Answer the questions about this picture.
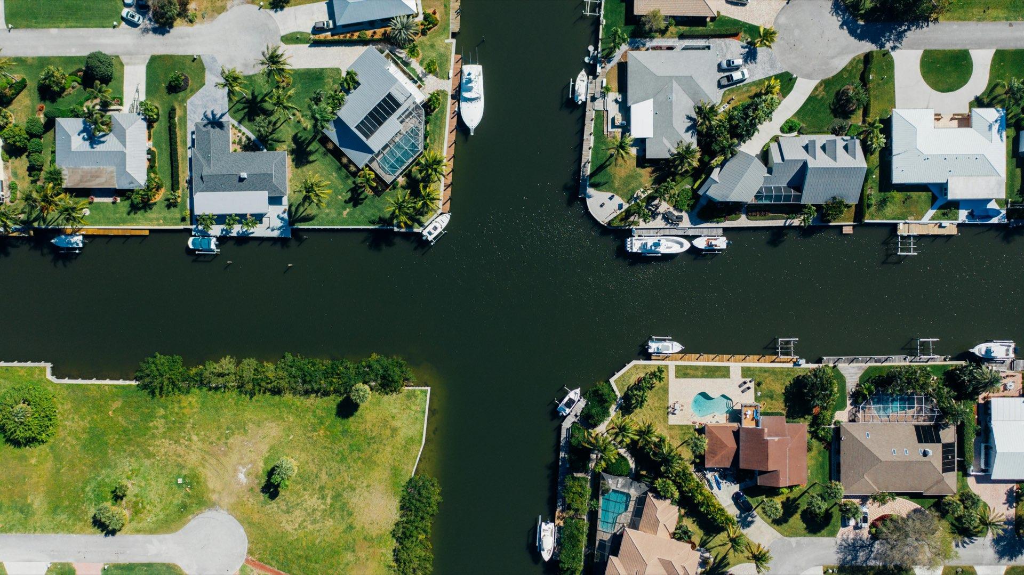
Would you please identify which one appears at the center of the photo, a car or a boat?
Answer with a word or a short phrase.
boat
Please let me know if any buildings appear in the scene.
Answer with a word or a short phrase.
Yes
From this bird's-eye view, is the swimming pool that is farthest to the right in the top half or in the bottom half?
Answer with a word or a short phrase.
bottom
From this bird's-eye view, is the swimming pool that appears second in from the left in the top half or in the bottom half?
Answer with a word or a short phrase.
bottom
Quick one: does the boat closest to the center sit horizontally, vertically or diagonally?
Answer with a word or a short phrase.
diagonally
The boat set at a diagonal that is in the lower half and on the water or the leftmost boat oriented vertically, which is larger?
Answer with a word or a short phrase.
the leftmost boat oriented vertically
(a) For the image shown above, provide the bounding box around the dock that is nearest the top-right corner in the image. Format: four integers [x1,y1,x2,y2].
[897,223,958,236]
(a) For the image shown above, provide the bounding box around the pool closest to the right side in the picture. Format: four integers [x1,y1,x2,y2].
[871,393,916,419]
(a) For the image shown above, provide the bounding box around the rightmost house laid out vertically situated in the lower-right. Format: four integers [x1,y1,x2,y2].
[987,397,1024,479]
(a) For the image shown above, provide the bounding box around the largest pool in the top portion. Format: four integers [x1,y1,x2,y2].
[378,125,422,175]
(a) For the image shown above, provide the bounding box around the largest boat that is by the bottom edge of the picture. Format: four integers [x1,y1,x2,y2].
[540,519,554,564]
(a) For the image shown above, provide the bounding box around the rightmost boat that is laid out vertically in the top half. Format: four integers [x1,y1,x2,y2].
[574,66,588,106]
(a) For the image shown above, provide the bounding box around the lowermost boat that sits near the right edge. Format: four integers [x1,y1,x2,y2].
[968,342,1019,358]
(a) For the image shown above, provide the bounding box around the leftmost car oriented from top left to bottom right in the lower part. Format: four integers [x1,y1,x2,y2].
[731,489,752,514]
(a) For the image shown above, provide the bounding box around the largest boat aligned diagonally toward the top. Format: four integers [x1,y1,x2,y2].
[422,212,451,241]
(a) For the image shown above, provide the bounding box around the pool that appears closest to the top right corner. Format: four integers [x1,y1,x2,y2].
[754,190,786,202]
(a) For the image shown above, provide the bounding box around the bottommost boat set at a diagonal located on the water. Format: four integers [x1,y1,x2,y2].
[555,387,581,418]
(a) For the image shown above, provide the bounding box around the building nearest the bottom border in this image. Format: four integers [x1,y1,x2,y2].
[606,492,700,575]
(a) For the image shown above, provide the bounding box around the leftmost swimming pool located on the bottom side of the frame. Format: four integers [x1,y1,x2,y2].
[598,489,632,532]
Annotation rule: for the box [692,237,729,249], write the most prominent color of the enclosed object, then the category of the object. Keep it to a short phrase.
white boat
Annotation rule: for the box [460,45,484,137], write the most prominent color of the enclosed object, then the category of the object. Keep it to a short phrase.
white boat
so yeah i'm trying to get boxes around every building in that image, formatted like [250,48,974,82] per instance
[192,121,288,214]
[0,137,8,198]
[890,108,1006,199]
[55,113,149,189]
[698,136,867,204]
[987,397,1024,479]
[634,0,716,17]
[323,45,426,169]
[839,423,956,495]
[606,492,700,575]
[705,416,807,487]
[628,50,718,158]
[332,0,417,26]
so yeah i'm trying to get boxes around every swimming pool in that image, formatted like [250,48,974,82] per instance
[378,125,422,175]
[598,489,632,532]
[690,391,734,418]
[754,190,786,202]
[871,393,916,419]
